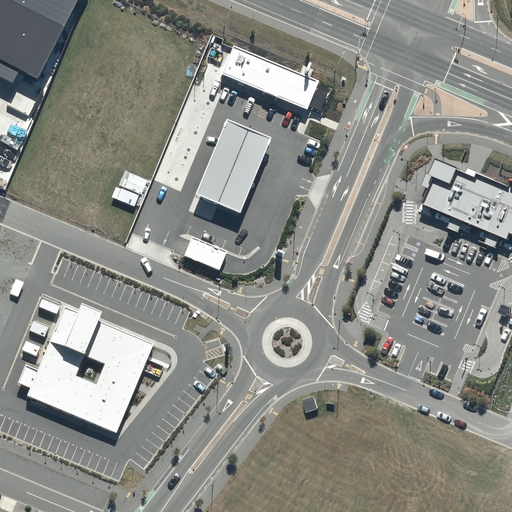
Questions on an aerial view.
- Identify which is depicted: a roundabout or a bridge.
roundabout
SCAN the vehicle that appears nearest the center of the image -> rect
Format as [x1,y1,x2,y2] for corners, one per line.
[234,229,248,244]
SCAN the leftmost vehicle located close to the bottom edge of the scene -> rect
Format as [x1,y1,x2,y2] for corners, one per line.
[168,474,180,490]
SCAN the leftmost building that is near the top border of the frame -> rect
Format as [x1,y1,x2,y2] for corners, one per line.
[0,0,80,85]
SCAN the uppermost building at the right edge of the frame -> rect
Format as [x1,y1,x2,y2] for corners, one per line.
[422,160,512,250]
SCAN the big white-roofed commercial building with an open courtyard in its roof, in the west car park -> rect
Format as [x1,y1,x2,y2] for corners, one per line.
[28,304,153,434]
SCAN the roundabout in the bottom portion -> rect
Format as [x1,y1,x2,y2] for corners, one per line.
[244,298,332,386]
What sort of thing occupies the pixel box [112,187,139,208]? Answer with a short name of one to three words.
building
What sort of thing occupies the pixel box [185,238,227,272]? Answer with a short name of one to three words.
building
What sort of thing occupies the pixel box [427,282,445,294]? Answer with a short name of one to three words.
vehicle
